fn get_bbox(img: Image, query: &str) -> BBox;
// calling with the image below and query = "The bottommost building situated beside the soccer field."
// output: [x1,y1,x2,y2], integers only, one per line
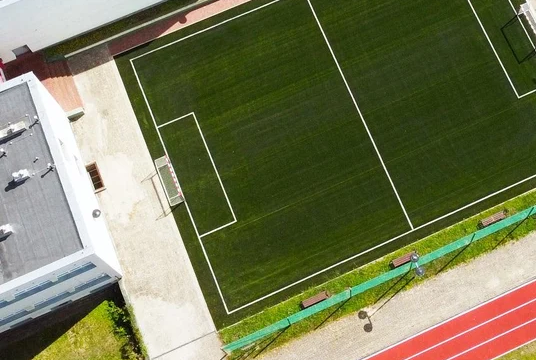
[0,69,120,337]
